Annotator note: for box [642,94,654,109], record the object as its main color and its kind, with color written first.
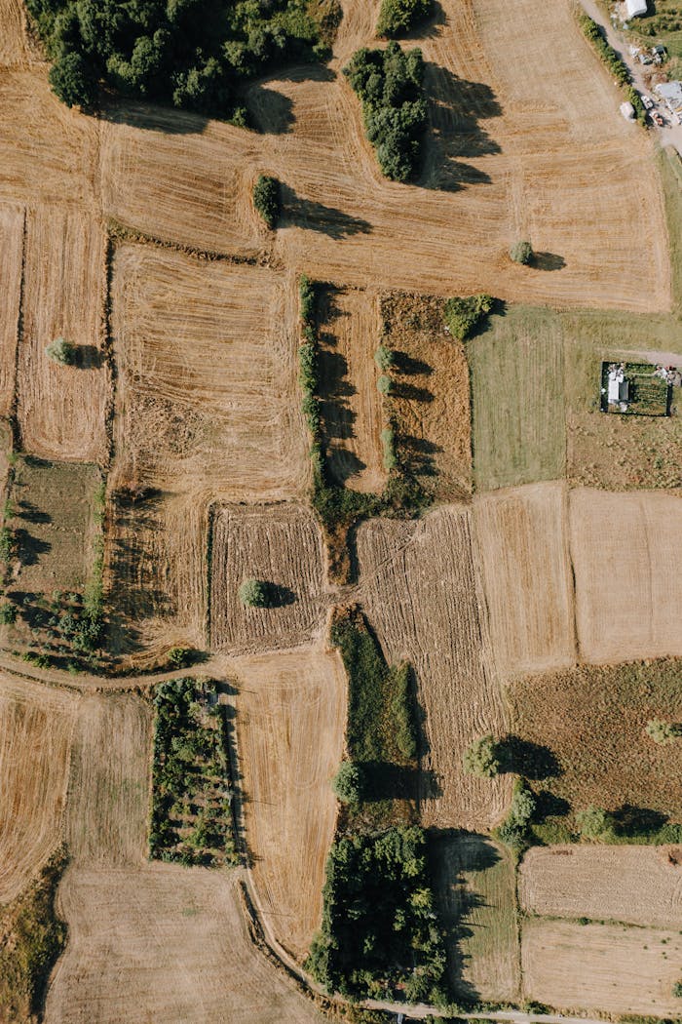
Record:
white vehicle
